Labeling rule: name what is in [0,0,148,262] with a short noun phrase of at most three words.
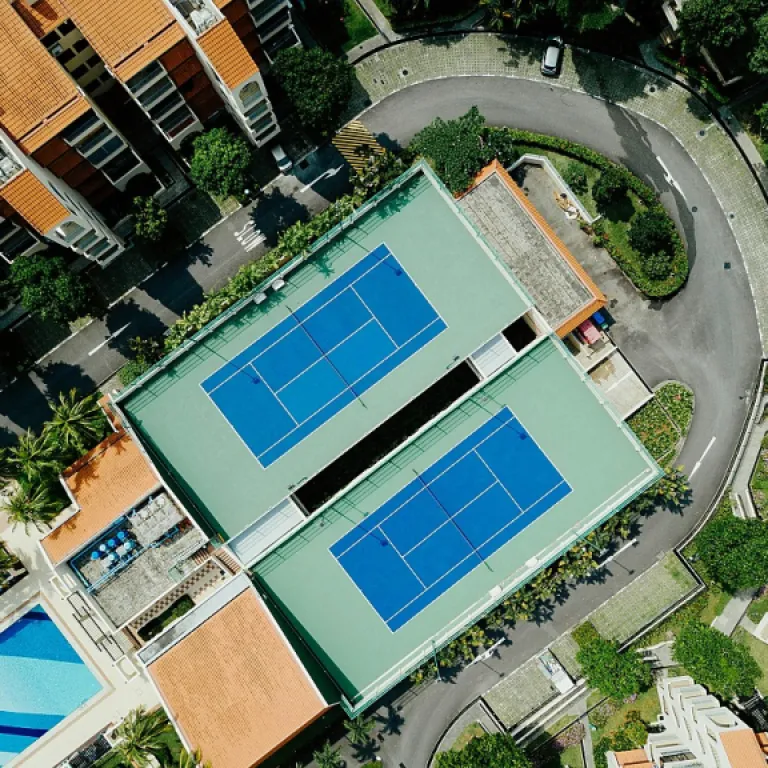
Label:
building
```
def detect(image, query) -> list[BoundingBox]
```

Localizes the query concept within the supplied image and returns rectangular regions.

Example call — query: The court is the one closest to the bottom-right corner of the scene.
[251,335,662,708]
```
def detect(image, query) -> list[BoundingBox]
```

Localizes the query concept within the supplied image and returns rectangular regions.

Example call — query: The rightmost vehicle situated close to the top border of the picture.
[538,38,564,80]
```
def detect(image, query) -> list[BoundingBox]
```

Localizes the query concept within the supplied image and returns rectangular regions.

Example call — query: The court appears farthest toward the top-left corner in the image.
[116,165,534,545]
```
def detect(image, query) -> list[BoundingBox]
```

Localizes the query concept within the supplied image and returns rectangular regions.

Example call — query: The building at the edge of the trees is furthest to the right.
[632,674,768,768]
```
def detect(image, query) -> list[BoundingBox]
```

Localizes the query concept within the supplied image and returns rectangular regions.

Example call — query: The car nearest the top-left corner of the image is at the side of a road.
[268,138,298,178]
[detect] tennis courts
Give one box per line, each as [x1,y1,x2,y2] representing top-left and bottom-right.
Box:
[116,165,534,545]
[251,335,662,708]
